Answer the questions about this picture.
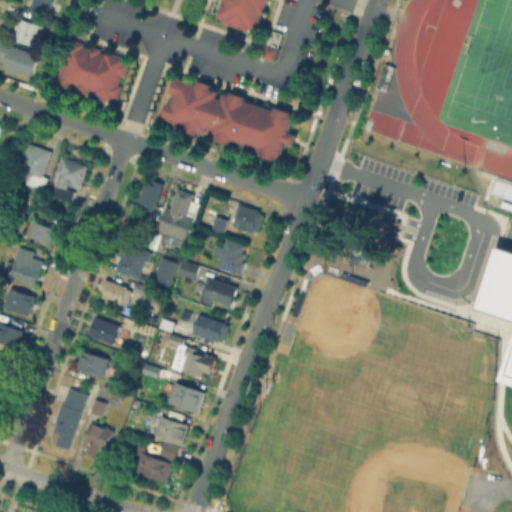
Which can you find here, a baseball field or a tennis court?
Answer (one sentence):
It is a baseball field that can be seen here.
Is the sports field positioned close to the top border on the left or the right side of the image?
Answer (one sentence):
The sports field positioned close to the top border appears in the right half of the scene.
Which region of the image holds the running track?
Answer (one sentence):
The running track is in the top right part of the image.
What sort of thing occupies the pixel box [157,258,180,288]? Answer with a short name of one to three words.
house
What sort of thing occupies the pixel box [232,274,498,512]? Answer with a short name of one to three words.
baseball field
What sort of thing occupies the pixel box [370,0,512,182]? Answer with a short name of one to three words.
running track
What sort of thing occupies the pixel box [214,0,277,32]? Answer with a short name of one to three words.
building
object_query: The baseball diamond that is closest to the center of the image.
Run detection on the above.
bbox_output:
[296,274,388,358]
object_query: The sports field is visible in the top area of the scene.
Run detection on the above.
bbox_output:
[440,0,512,146]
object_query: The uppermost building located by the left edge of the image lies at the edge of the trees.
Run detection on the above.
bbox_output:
[16,20,44,47]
